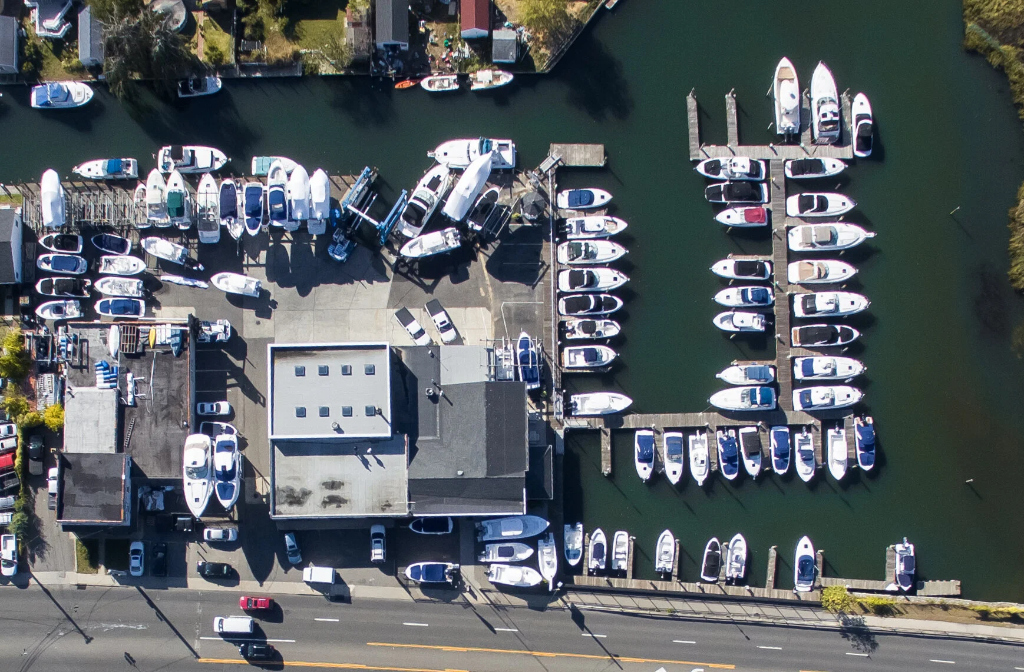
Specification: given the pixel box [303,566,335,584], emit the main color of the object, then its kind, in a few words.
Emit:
white vehicle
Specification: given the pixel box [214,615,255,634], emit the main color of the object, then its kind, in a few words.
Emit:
white vehicle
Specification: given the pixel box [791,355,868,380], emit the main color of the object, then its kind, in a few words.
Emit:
white boat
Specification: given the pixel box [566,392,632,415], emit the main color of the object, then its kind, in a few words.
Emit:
white boat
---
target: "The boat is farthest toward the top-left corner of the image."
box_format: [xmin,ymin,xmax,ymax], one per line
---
[31,81,96,109]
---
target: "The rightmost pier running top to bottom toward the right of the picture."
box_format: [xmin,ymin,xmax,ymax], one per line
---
[733,158,840,413]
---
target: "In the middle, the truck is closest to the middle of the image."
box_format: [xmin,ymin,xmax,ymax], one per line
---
[427,300,457,346]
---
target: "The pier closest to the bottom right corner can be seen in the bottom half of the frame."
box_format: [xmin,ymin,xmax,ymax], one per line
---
[916,580,961,596]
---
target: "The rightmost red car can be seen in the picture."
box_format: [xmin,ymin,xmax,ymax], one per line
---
[240,595,274,611]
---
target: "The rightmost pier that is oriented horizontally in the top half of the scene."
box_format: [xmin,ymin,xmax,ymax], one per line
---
[687,86,855,160]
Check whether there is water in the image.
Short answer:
Yes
